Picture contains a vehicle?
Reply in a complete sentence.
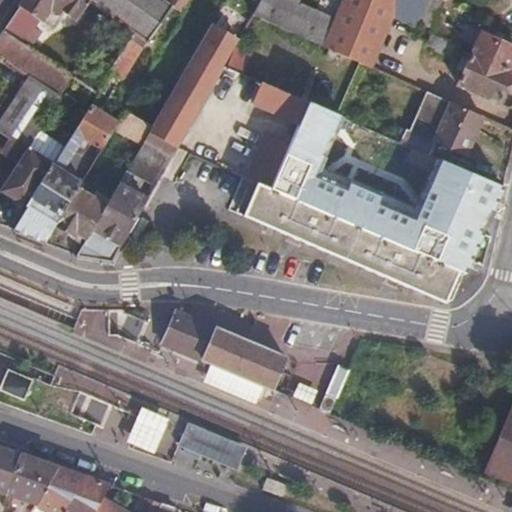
Yes, the picture does show a vehicle.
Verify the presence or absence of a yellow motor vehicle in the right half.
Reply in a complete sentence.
No, no yellow motor vehicle is visible in the right half.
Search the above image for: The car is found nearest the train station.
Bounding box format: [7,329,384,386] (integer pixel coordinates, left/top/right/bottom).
[285,324,300,346]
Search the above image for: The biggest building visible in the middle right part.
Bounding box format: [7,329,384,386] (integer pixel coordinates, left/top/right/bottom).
[248,102,505,303]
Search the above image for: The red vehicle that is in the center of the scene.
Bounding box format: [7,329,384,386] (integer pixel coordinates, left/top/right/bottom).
[286,256,298,278]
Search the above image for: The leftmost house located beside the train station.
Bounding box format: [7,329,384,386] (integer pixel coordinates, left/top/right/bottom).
[160,308,200,362]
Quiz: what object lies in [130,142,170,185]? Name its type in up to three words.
building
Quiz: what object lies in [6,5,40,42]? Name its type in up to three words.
house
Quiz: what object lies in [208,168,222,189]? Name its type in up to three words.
car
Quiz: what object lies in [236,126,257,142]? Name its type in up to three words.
car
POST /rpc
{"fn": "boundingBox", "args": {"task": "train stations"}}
[202,326,287,391]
